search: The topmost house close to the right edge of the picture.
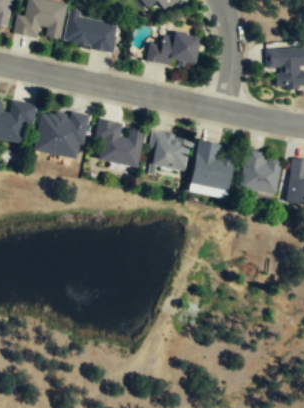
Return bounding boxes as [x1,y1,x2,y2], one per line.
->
[268,46,304,88]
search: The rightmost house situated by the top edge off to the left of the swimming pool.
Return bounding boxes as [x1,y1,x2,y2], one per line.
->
[64,6,115,54]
